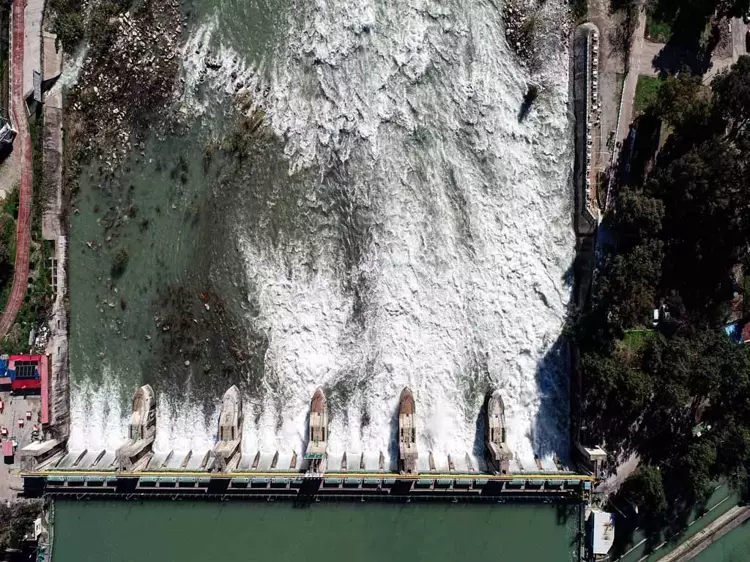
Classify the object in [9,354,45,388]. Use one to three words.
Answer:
building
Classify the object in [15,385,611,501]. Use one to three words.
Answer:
dam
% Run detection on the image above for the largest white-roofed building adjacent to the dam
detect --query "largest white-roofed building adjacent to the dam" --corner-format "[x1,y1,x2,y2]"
[589,507,614,554]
